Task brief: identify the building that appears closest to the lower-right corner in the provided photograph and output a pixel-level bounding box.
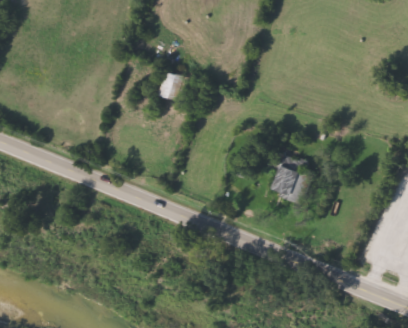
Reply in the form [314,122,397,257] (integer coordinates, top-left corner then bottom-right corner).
[272,161,308,202]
